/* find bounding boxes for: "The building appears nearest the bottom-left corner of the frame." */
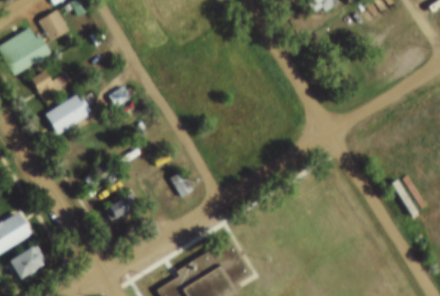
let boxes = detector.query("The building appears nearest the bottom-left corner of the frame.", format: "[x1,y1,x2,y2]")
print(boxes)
[10,246,46,279]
